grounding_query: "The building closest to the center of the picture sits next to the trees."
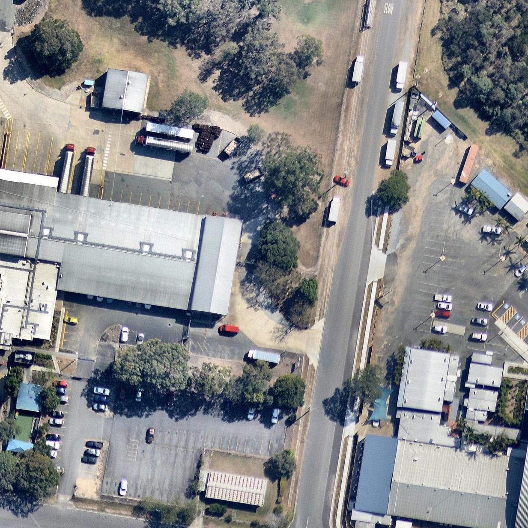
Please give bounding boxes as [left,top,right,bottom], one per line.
[191,216,242,318]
